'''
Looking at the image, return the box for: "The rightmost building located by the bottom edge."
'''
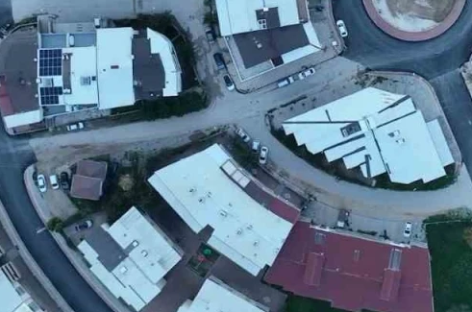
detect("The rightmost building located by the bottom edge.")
[264,215,434,312]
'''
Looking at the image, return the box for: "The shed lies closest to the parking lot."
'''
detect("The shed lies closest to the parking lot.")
[71,157,108,199]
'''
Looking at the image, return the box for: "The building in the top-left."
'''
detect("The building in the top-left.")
[0,22,185,128]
